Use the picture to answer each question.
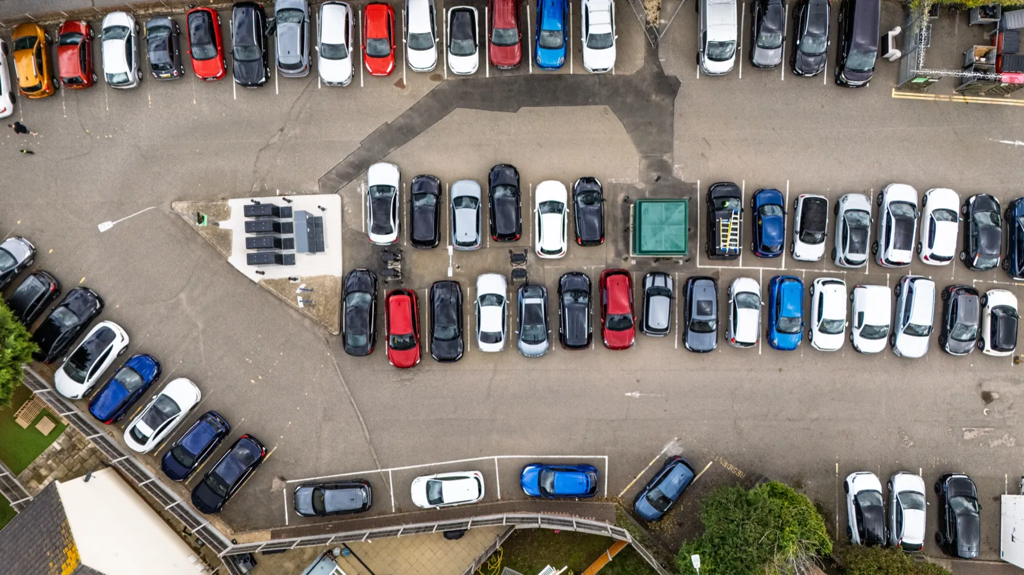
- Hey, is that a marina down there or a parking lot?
parking lot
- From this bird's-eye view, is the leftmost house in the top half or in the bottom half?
bottom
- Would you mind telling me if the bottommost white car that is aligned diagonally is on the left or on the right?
left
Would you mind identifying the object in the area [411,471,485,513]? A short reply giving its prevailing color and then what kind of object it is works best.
white car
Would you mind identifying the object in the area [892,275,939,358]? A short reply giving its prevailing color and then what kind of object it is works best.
white car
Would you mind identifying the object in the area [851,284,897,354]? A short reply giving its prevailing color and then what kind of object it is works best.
white van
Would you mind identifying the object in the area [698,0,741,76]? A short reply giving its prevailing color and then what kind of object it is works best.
white van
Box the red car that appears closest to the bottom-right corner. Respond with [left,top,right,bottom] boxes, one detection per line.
[599,270,639,350]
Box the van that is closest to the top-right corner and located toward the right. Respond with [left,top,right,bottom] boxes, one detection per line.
[837,0,885,88]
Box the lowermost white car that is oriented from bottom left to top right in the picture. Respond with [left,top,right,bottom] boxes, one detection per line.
[124,379,200,455]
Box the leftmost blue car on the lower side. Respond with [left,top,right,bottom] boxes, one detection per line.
[88,354,161,426]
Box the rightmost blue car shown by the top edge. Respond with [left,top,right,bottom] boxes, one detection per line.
[532,0,571,70]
